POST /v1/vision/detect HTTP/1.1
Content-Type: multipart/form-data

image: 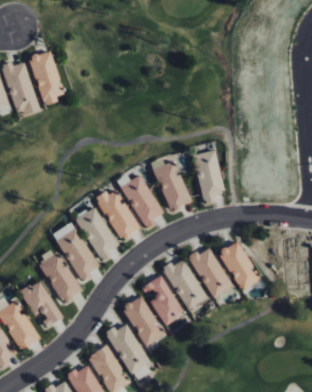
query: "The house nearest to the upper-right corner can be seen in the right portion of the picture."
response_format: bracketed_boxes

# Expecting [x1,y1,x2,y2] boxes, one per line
[195,144,226,200]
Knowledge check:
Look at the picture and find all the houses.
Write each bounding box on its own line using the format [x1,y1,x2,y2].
[220,240,262,291]
[144,277,186,326]
[78,208,120,258]
[166,259,210,311]
[124,296,165,346]
[0,326,18,366]
[0,76,12,116]
[22,282,63,328]
[190,247,234,299]
[68,365,104,392]
[0,298,42,350]
[99,188,142,240]
[117,174,164,224]
[154,161,192,210]
[2,59,42,114]
[29,52,66,104]
[108,323,153,381]
[40,250,84,303]
[195,144,226,200]
[53,222,100,280]
[90,346,131,392]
